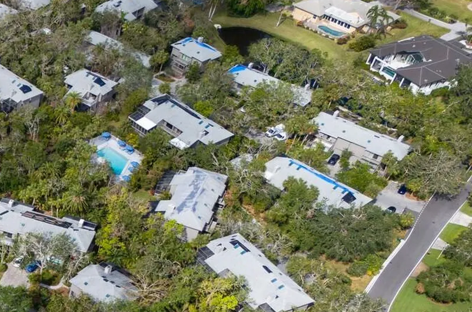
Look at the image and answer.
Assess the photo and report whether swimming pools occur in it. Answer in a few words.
Yes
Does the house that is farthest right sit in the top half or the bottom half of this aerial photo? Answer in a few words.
top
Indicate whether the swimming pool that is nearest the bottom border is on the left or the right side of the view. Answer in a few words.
left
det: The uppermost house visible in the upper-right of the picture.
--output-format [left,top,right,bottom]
[301,0,390,37]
